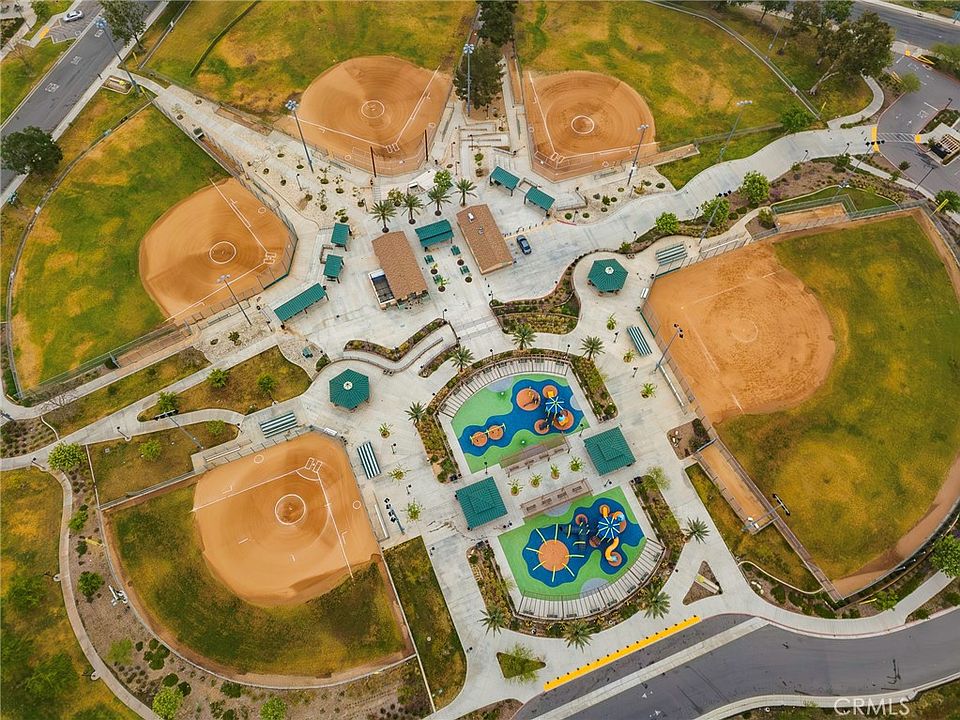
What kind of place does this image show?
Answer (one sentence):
What you see here is a sports ground.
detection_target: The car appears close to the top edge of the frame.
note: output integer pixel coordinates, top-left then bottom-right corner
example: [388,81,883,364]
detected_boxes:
[62,10,84,24]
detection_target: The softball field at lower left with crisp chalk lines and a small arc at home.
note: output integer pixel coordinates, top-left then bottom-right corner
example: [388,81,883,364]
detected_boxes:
[101,432,413,685]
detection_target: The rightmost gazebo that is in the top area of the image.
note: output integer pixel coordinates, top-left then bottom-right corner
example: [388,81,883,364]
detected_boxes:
[586,259,628,299]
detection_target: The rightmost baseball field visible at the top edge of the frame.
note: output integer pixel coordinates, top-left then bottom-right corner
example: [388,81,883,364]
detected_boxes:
[517,0,817,181]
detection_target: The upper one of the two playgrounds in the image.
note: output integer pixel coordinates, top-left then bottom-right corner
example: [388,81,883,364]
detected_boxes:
[452,372,590,472]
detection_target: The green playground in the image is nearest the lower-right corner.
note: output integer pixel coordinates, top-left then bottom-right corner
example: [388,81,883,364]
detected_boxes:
[498,487,647,600]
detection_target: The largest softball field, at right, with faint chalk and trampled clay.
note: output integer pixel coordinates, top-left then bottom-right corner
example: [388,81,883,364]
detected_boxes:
[639,207,960,598]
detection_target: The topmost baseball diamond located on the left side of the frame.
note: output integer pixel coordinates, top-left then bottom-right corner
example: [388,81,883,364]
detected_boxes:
[141,0,470,177]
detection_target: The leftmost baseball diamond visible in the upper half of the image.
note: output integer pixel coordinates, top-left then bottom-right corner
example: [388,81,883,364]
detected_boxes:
[10,102,295,394]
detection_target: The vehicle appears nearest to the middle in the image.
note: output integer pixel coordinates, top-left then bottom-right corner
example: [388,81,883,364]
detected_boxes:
[516,233,532,256]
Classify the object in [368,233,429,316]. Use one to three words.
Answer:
building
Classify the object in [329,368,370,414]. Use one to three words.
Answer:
gazebo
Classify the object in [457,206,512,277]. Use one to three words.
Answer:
building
